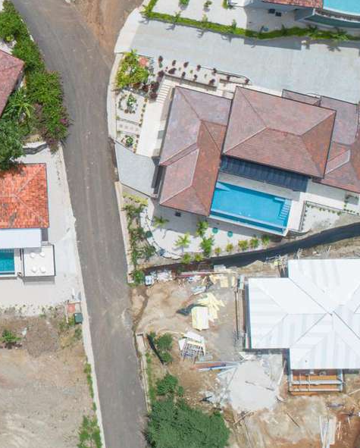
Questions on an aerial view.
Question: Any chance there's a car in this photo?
No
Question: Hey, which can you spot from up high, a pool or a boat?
pool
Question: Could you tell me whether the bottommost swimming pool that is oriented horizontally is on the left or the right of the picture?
right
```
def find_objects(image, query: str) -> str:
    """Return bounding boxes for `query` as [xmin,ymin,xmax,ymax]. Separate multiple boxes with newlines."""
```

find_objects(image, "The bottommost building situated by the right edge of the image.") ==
[240,258,360,393]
